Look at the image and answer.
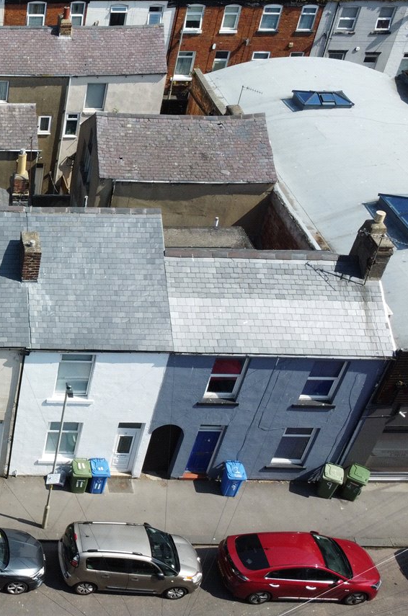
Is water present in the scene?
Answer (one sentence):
No, there's no water in this view.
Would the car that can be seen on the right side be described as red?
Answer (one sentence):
Yes, the car that can be seen on the right side is indeed red.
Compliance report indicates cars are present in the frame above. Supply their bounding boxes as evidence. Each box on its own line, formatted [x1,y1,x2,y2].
[0,524,51,592]
[54,516,202,597]
[221,527,393,606]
